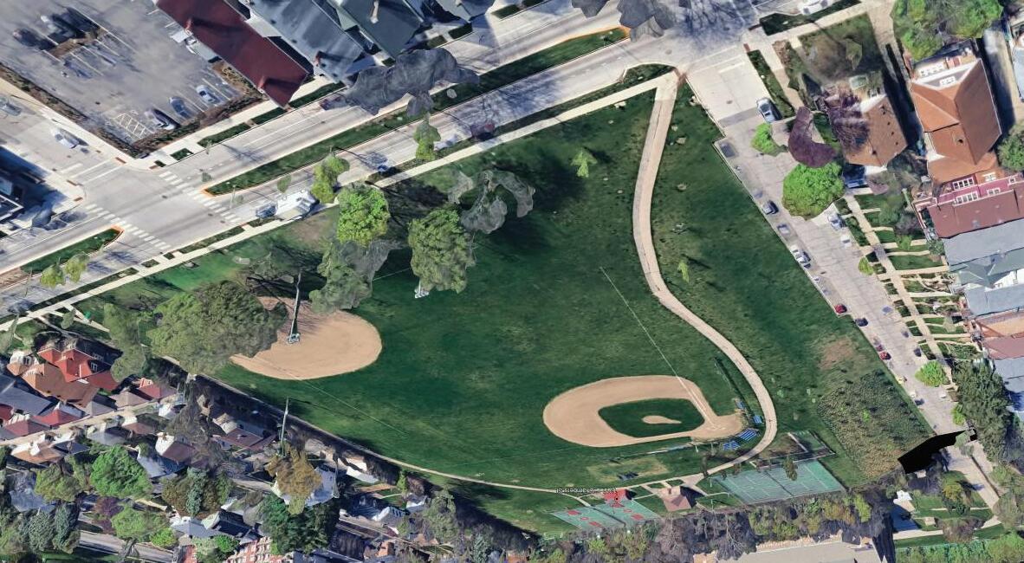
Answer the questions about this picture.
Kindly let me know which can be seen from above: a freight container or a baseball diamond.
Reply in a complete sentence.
Looking from above, you can make out a baseball diamond.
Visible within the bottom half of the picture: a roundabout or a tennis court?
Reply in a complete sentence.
What appears within the bottom half of the picture is a tennis court.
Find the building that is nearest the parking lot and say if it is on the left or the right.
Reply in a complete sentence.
The building that is nearest the parking lot is on the left side of the image.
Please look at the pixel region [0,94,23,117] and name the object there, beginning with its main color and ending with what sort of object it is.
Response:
gray car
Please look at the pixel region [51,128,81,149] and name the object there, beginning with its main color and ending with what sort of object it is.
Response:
white car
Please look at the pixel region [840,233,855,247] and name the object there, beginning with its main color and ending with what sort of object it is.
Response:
white car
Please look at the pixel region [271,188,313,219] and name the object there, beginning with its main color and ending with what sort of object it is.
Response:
white bus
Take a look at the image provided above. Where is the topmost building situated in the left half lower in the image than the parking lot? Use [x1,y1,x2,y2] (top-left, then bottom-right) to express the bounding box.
[0,159,44,228]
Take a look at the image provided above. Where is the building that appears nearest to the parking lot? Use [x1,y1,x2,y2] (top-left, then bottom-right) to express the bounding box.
[141,0,316,108]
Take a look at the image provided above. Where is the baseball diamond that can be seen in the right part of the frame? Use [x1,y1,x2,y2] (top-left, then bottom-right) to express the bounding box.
[543,269,745,447]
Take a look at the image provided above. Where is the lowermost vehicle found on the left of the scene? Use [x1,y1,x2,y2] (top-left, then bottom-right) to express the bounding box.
[10,301,30,314]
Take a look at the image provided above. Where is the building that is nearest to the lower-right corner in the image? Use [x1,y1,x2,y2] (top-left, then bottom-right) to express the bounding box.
[891,485,918,510]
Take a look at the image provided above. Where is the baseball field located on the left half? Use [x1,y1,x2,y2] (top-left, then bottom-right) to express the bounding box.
[210,267,415,437]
